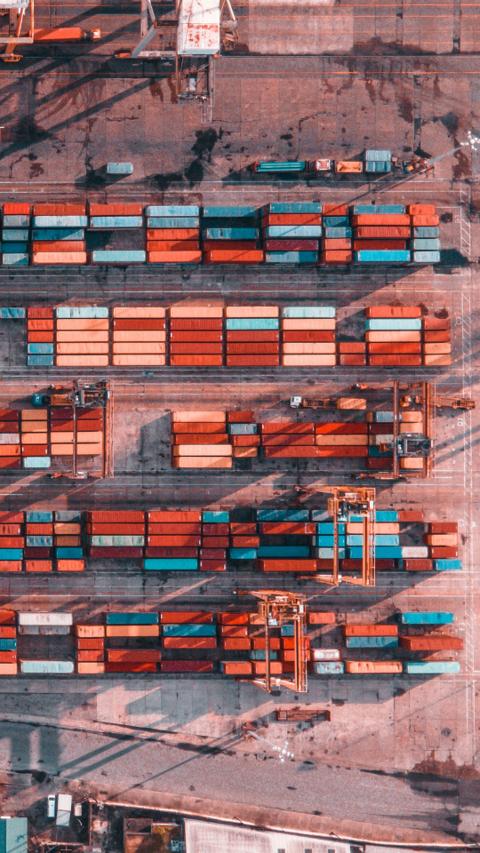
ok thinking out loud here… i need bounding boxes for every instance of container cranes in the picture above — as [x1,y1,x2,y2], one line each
[50,377,116,482]
[234,585,312,697]
[122,0,252,123]
[354,377,441,482]
[298,482,381,588]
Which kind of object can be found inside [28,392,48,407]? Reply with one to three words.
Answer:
vehicle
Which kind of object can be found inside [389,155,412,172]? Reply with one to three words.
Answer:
work vehicle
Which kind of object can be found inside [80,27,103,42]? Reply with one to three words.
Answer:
vehicle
